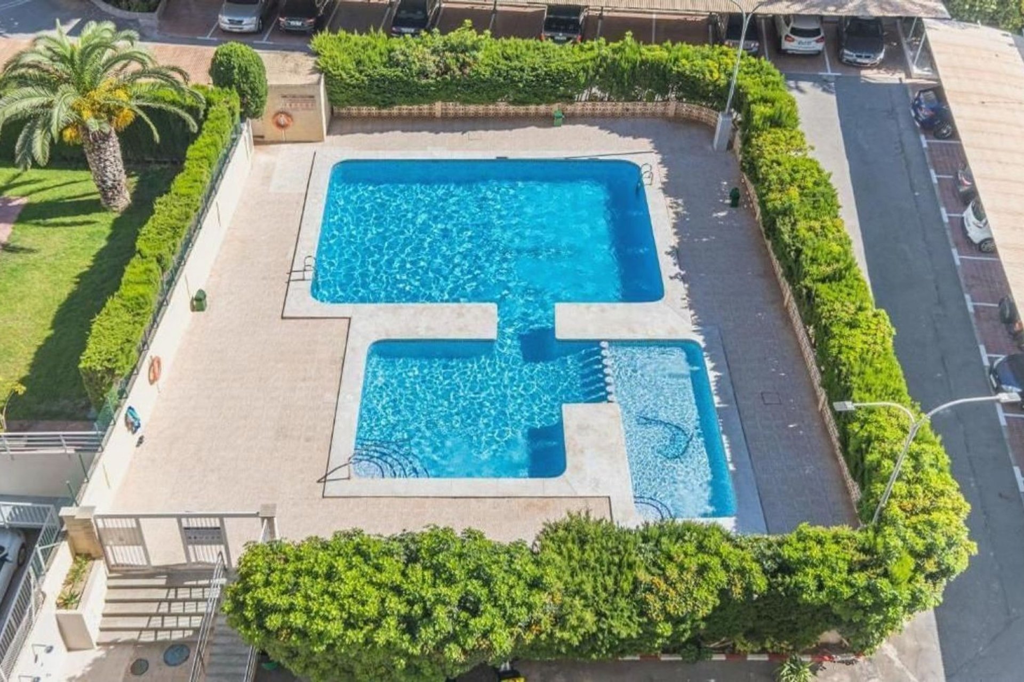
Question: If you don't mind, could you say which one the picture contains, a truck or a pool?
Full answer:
The one in the frame is a pool.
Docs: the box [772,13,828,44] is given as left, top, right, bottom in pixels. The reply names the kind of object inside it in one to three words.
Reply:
car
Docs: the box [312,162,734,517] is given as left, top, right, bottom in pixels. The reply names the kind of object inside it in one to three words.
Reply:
swimming pool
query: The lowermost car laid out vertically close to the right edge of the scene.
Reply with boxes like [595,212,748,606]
[992,342,1024,409]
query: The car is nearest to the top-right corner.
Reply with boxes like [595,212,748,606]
[920,82,964,138]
